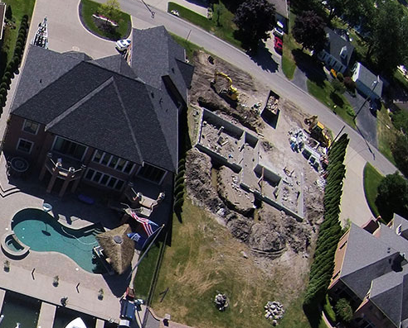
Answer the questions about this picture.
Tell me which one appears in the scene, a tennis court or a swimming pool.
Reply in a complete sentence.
This aerial view contains a swimming pool.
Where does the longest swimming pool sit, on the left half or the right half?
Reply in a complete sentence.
It is on the left.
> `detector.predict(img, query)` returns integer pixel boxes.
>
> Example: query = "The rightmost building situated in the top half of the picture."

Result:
[352,61,383,102]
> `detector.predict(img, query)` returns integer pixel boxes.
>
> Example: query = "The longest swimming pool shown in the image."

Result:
[9,206,107,275]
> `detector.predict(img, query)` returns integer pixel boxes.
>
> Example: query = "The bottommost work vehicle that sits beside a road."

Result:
[308,115,343,146]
